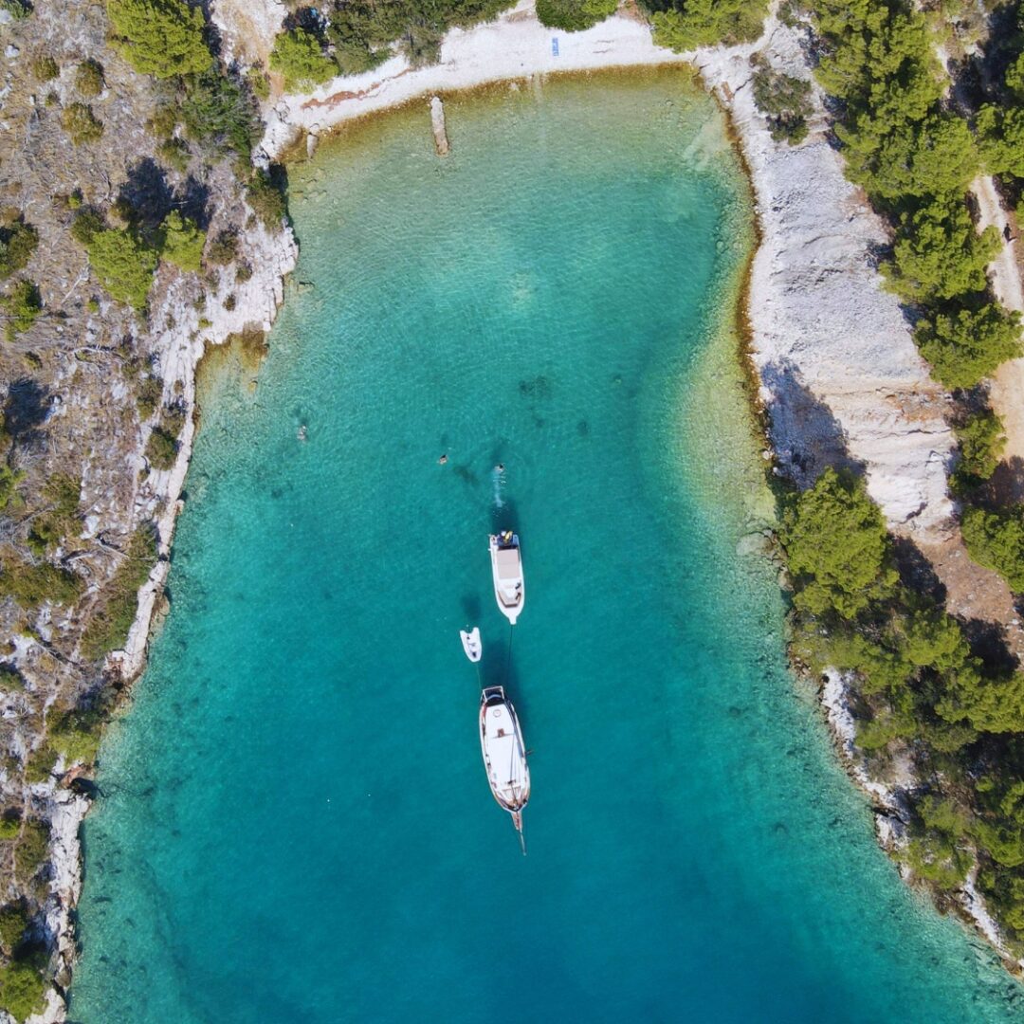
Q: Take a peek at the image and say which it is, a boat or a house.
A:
boat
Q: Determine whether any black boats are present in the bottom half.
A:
No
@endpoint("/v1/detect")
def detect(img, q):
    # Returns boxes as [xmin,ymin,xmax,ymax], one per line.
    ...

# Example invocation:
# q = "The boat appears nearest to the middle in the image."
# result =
[486,530,525,625]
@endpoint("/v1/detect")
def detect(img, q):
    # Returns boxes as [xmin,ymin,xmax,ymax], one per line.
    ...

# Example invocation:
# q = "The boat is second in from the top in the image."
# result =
[460,628,481,662]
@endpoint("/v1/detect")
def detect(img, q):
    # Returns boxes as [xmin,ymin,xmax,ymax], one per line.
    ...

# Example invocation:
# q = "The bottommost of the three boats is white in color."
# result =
[479,685,533,860]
